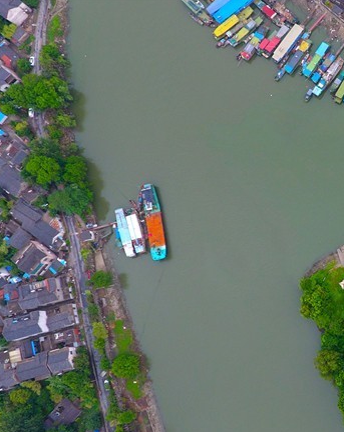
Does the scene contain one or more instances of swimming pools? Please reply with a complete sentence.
No, I can't see a single swimming pool in this photo.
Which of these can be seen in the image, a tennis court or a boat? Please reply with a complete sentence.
The image shows a boat.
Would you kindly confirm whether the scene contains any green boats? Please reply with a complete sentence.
Yes, a green boat is visible in the scene.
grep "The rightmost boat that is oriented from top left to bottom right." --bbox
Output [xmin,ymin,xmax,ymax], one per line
[273,4,299,27]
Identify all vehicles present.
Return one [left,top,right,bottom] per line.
[104,377,110,387]
[30,57,36,67]
[99,369,108,378]
[29,109,35,119]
